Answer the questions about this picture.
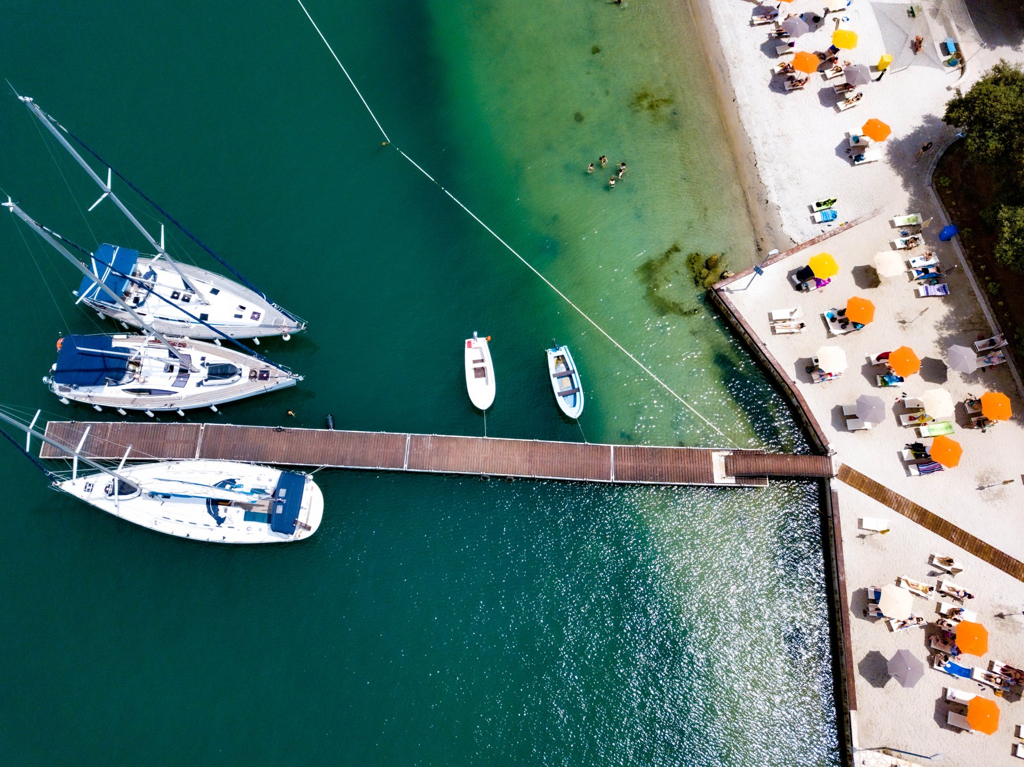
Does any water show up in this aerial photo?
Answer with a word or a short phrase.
Yes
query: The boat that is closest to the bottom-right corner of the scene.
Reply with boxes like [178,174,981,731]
[547,333,587,443]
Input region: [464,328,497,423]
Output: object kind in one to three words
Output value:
boat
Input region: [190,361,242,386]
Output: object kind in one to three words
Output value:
boat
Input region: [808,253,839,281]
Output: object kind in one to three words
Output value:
umbrella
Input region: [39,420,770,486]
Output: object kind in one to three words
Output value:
pier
